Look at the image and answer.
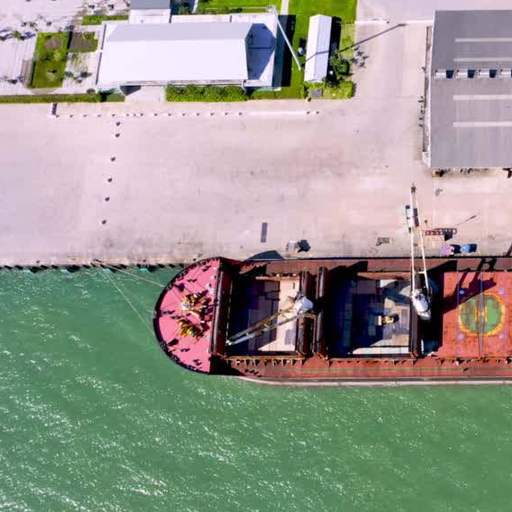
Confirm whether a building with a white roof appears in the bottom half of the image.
No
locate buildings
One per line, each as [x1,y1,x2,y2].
[423,9,512,188]
[101,13,281,102]
[305,13,332,86]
